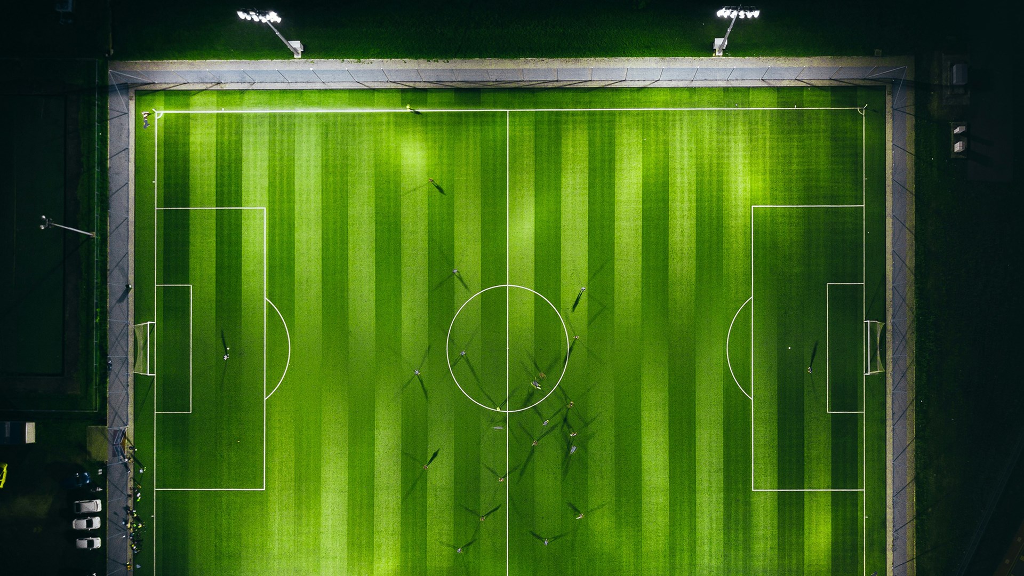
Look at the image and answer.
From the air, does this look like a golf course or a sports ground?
sports ground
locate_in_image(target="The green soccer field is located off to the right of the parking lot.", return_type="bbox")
[131,85,887,576]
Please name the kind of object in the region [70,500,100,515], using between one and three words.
car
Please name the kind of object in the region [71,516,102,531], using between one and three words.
car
